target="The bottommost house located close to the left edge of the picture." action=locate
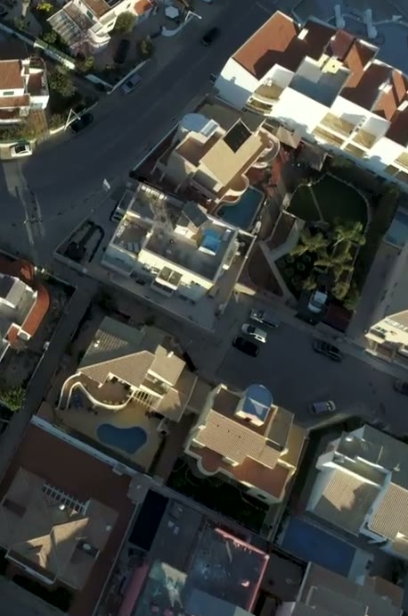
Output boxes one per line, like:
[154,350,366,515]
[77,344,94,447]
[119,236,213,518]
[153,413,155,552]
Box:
[0,466,150,590]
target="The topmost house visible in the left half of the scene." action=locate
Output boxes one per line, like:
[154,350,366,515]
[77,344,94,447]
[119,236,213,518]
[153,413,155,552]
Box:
[43,0,153,57]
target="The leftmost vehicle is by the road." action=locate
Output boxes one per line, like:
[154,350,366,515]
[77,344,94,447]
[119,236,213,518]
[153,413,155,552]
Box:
[9,143,33,156]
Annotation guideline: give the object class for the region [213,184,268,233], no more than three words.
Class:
swimming pool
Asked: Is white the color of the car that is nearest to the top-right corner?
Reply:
No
